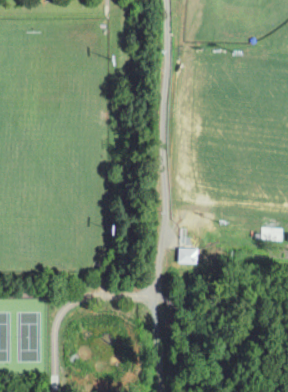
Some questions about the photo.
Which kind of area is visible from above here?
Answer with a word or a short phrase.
sports ground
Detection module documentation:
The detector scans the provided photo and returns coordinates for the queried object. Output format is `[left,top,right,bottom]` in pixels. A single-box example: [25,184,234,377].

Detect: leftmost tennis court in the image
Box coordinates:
[0,312,12,362]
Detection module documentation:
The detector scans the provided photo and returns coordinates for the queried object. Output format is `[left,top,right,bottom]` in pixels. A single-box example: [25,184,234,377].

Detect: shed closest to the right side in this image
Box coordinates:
[261,227,284,242]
